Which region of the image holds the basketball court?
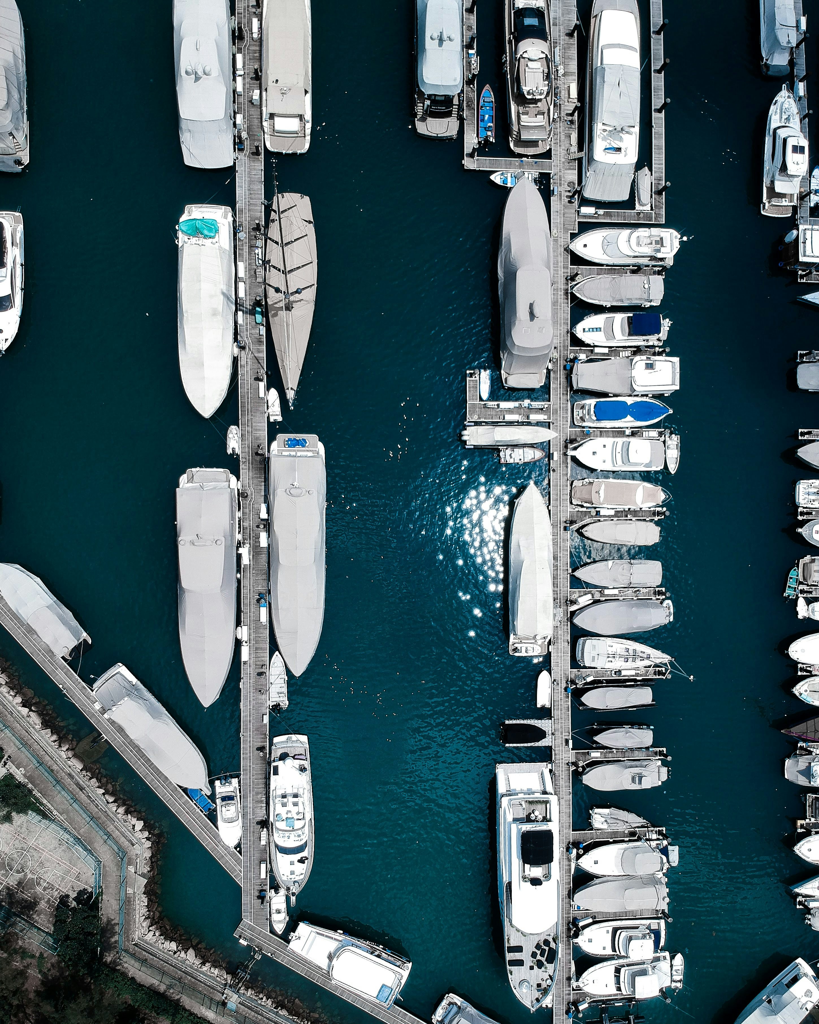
bottom left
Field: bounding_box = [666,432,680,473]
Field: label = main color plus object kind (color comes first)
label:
white boat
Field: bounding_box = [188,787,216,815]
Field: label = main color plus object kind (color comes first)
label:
blue boat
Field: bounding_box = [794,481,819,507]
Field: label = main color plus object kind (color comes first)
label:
white boat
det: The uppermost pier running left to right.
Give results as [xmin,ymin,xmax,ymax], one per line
[476,157,552,173]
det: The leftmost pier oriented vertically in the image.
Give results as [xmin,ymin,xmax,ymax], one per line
[236,0,269,933]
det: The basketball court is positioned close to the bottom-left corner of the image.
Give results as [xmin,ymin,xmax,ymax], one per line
[0,813,93,938]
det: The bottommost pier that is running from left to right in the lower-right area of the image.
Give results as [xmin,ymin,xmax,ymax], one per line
[572,988,666,1008]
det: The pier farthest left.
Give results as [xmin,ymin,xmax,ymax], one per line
[0,600,242,886]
